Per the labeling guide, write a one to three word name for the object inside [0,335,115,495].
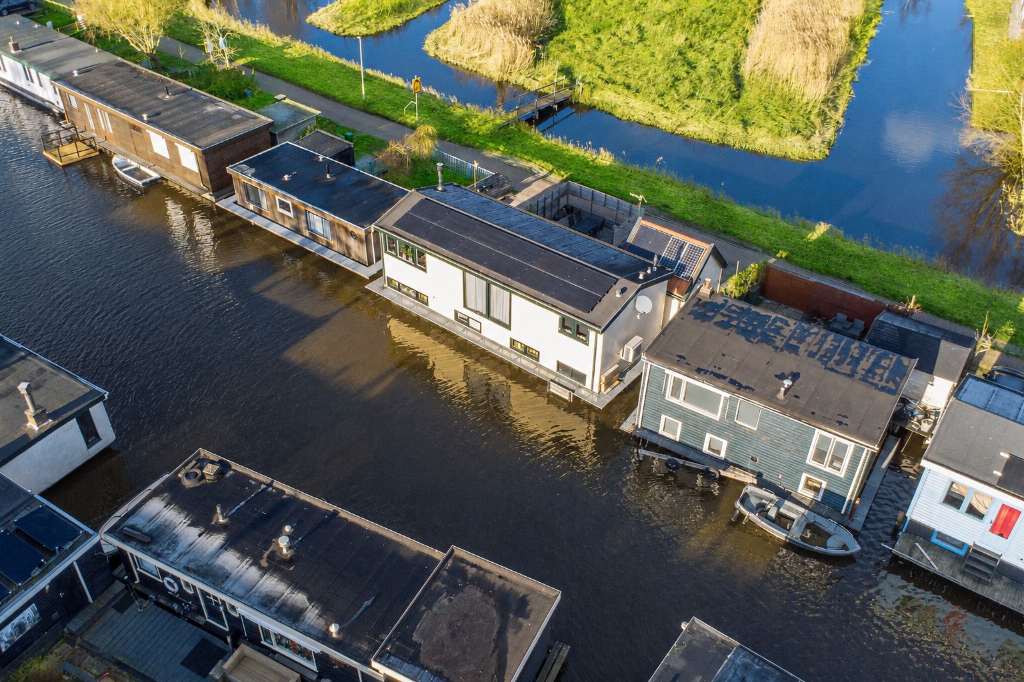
boat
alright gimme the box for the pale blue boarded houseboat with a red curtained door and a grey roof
[877,374,1024,625]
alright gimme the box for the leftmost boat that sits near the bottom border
[0,475,111,664]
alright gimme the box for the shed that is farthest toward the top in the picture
[256,93,326,141]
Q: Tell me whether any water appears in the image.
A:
Yes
